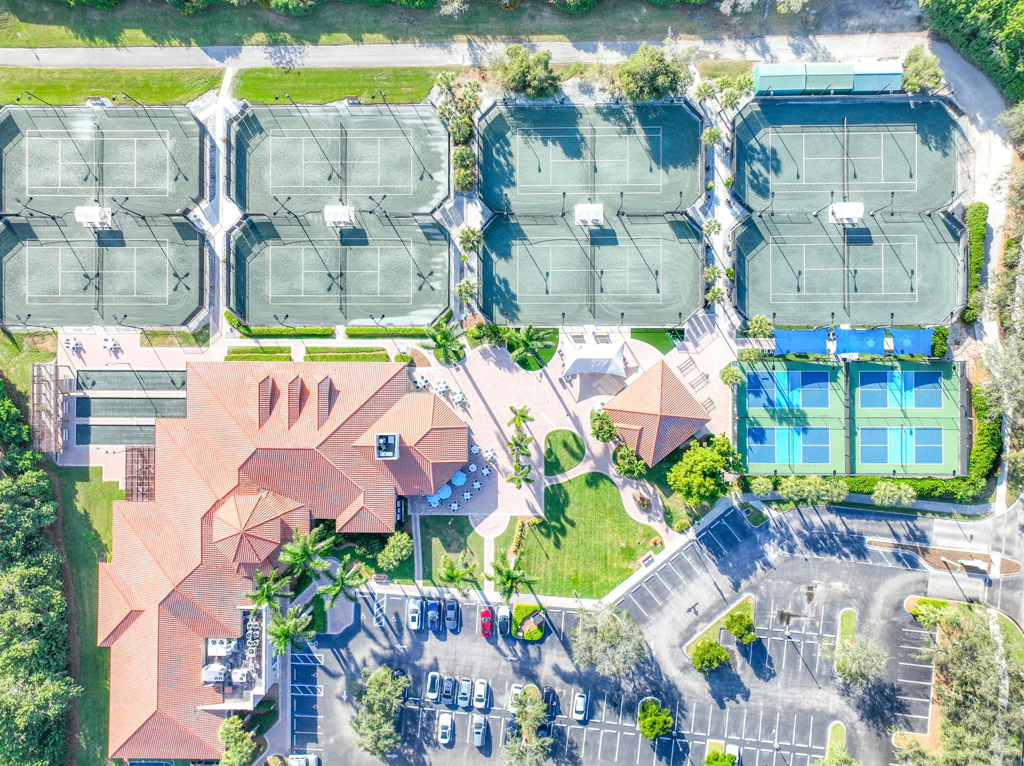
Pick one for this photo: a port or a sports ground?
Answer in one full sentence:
The area seen from above is a sports ground.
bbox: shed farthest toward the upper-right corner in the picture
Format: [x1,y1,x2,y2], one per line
[848,62,904,94]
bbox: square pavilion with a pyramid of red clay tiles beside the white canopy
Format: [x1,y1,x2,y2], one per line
[603,359,711,469]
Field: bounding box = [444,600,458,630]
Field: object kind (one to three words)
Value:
car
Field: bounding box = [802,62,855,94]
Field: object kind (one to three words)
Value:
shed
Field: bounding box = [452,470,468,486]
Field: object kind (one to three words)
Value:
umbrella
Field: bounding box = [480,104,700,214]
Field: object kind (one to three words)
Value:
tennis court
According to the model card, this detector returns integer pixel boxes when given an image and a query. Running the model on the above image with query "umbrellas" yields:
[452,470,468,486]
[438,483,453,499]
[428,493,443,507]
